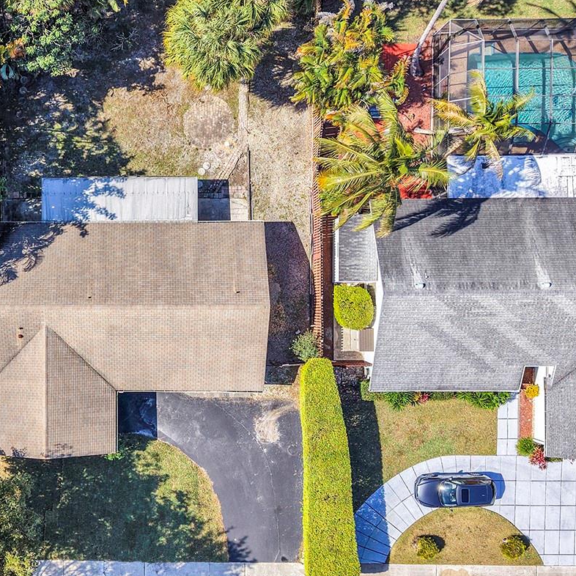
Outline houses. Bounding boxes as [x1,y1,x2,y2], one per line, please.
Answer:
[369,155,576,462]
[0,221,269,458]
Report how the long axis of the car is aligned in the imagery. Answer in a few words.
from side to side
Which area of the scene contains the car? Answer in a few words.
bottom right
